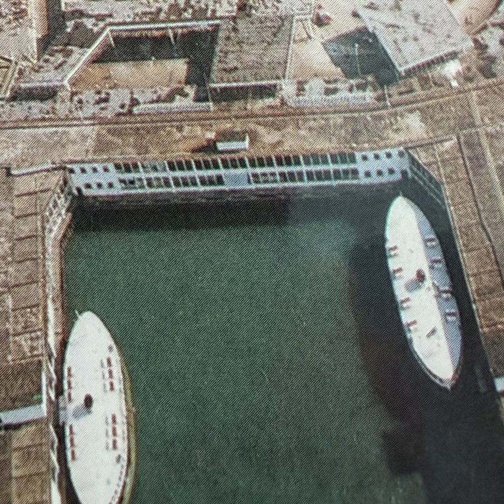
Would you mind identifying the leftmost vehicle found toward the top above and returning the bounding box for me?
[314,10,333,31]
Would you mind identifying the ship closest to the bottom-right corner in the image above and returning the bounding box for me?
[386,202,471,401]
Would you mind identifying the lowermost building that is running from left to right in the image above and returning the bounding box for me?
[0,73,504,212]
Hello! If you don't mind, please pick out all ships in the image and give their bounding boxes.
[386,202,471,401]
[64,318,137,504]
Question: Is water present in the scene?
Yes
